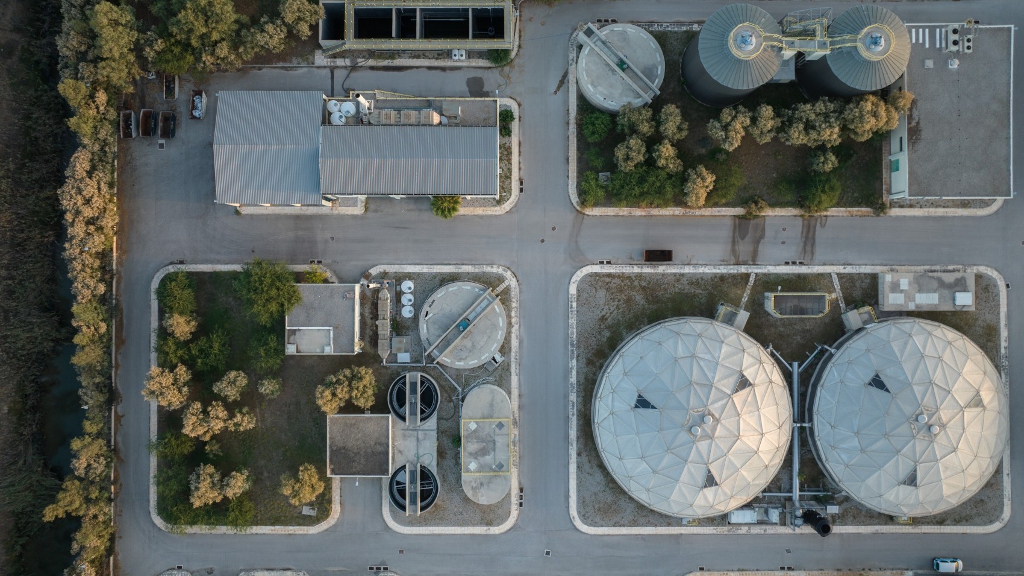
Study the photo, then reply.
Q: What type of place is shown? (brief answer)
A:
industrial area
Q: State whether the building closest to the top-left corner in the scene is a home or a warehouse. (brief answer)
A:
warehouse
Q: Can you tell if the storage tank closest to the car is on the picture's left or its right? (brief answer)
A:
right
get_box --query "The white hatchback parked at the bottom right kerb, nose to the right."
[930,556,961,573]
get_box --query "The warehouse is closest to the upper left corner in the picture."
[212,90,332,207]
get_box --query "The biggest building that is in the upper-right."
[890,24,1018,202]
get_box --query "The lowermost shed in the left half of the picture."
[327,410,393,477]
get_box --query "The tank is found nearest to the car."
[803,316,1009,515]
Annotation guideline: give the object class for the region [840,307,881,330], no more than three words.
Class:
shed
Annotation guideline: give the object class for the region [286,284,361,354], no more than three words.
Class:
building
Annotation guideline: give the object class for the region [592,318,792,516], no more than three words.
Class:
storage tank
